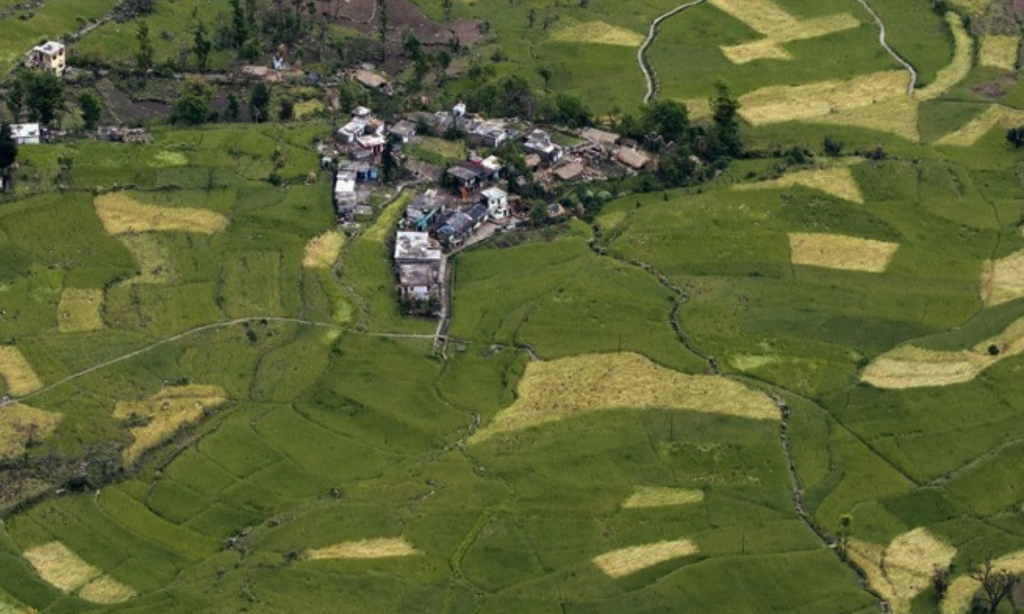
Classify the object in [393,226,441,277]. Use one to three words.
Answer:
house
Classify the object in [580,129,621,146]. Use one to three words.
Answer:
barn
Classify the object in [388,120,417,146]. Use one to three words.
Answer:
house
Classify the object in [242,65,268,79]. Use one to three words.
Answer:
shed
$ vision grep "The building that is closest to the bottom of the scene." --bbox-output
[398,263,431,305]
